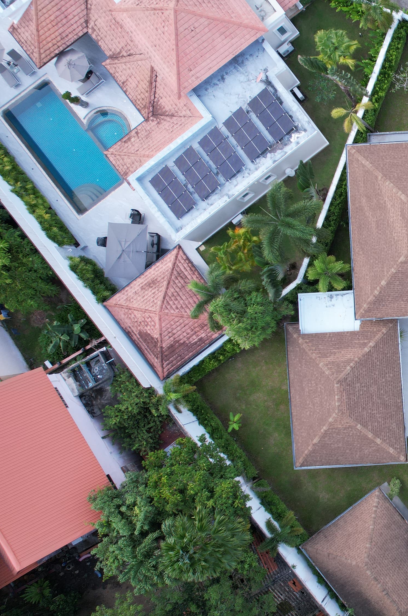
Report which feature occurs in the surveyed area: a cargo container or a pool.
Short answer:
pool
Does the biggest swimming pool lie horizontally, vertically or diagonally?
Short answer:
diagonally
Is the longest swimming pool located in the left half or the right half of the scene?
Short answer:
left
